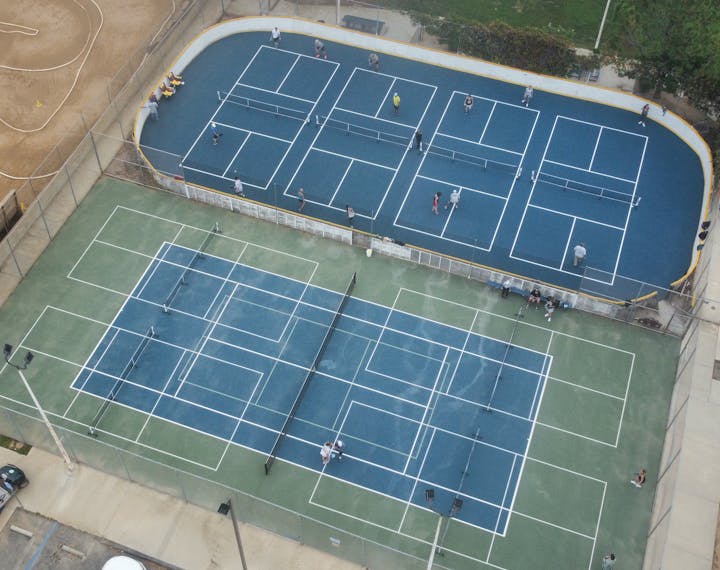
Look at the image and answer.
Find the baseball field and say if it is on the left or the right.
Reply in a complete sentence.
The baseball field sits on the left side.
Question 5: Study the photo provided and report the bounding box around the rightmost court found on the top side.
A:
[509,115,648,285]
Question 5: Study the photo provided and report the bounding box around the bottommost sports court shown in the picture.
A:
[310,401,606,570]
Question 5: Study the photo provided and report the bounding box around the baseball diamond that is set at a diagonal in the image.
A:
[0,0,207,263]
